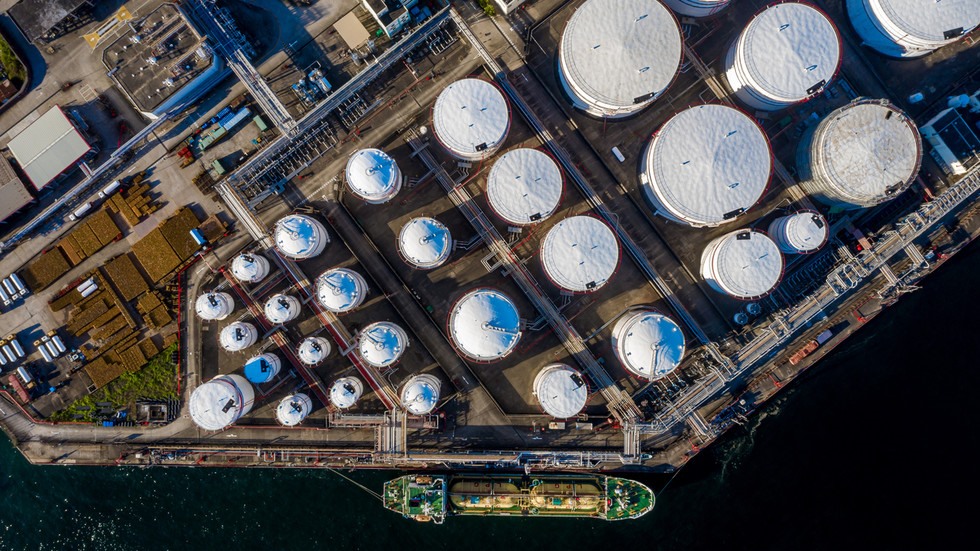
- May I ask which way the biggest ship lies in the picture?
horizontally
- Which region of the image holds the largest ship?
bottom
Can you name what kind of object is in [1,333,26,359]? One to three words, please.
truck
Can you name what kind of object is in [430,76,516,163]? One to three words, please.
storage tank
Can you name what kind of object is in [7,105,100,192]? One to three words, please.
building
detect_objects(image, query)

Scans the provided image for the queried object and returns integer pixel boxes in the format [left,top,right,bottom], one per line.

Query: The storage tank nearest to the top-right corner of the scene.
[843,0,980,64]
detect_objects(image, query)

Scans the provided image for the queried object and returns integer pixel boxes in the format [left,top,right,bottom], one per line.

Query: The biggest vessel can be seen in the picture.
[382,474,657,523]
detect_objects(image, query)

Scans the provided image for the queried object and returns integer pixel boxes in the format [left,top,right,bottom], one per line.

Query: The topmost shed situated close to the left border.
[6,0,97,47]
